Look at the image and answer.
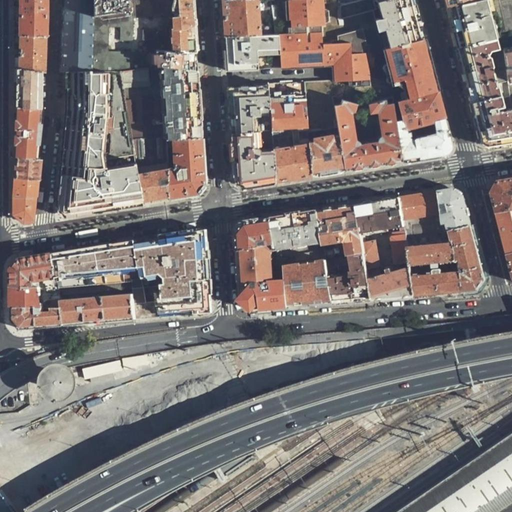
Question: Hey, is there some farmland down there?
No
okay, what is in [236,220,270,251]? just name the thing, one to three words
building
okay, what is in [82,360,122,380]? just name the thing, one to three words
shed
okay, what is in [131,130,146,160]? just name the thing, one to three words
house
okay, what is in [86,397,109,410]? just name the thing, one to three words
vehicle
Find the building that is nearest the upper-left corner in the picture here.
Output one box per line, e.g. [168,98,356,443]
[18,0,50,37]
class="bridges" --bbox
[24,331,512,512]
